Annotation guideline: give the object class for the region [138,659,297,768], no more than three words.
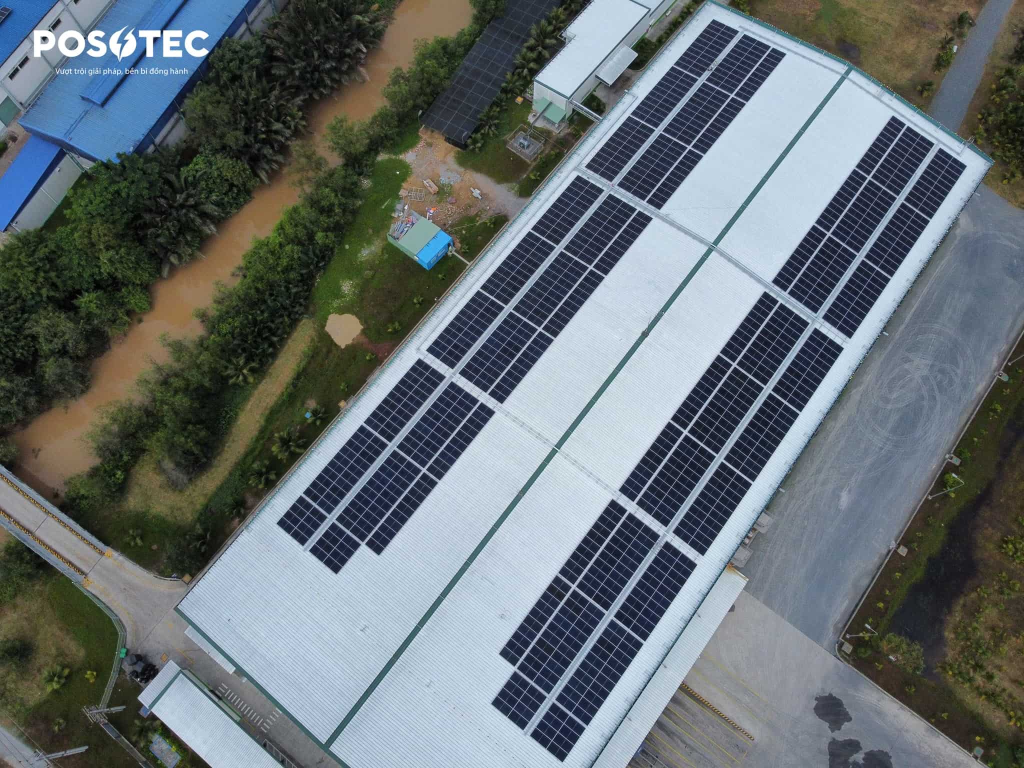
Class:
building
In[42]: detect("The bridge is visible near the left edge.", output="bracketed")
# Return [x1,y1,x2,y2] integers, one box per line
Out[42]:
[0,459,118,590]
